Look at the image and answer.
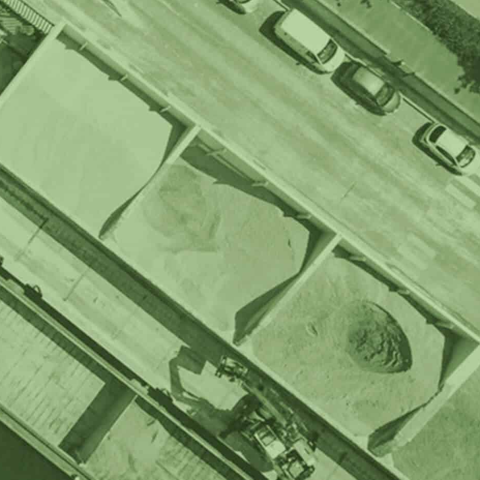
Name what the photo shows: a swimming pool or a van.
van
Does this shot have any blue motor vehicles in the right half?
No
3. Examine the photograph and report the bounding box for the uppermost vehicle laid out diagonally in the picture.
[272,9,346,72]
